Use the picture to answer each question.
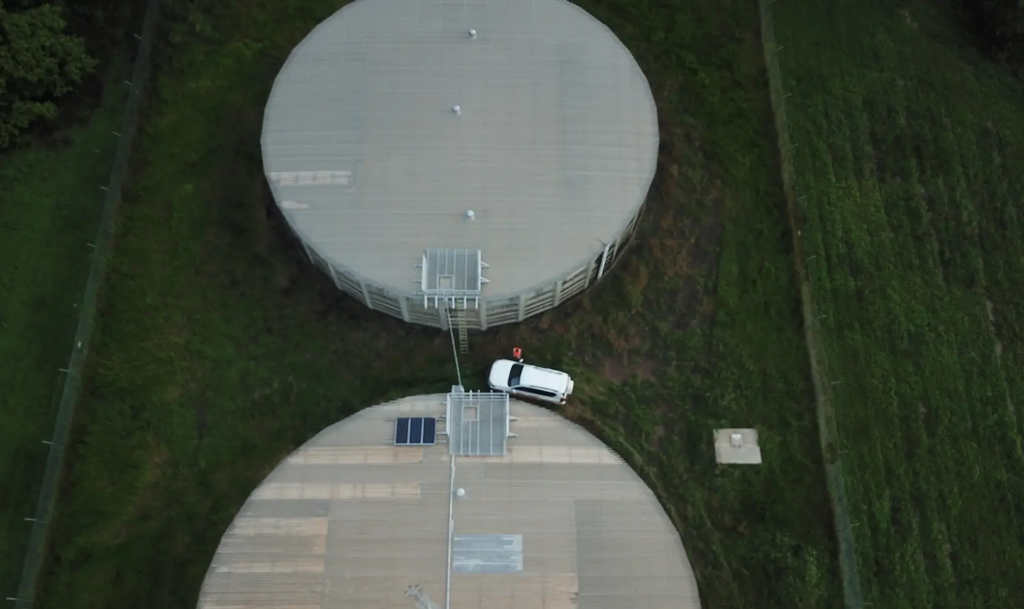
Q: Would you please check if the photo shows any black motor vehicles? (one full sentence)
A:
No, this view has no black motor vehicle in it.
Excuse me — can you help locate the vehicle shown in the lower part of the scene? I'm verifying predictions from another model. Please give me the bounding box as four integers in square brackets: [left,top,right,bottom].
[488,359,572,407]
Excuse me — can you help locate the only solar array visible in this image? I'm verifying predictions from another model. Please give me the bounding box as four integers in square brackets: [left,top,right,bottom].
[387,417,446,446]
